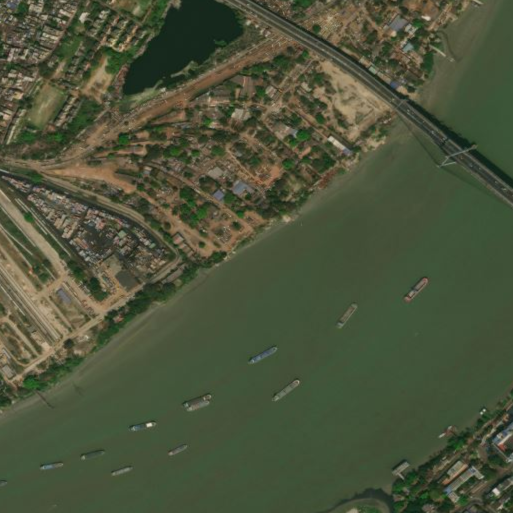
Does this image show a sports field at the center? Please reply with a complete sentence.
No, at the center there is no sports field.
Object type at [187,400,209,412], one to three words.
ship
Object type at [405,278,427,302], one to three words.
ship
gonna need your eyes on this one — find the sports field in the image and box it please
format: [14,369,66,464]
[29,82,65,128]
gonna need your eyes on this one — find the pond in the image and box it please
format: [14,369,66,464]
[123,0,243,96]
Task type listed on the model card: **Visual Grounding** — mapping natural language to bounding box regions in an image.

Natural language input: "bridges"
[227,0,513,211]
